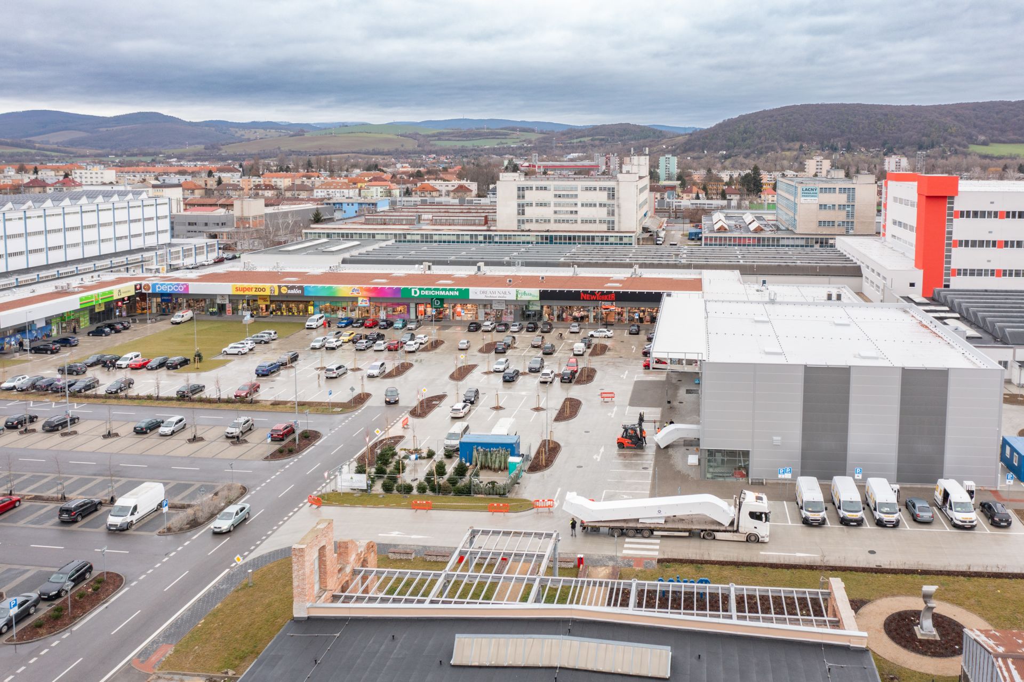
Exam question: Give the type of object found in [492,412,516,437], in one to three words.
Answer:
vehicle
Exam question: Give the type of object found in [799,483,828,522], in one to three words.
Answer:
van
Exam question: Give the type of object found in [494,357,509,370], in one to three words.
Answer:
vehicle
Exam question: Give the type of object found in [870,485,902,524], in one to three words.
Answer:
van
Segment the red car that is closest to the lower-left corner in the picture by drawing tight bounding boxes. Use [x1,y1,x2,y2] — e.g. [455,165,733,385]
[0,493,22,513]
